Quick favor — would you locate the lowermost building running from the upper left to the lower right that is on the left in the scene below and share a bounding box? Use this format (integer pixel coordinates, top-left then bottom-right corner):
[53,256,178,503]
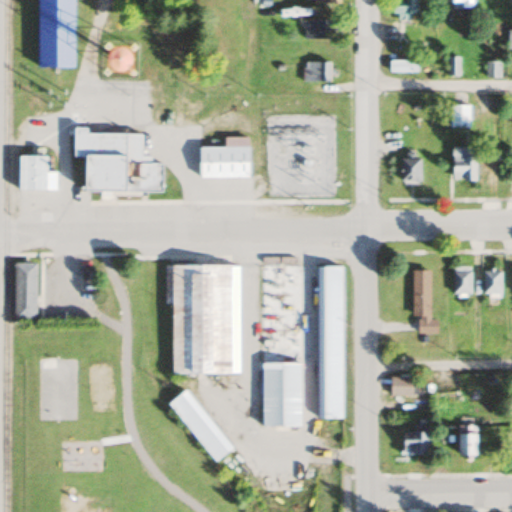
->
[170,390,235,464]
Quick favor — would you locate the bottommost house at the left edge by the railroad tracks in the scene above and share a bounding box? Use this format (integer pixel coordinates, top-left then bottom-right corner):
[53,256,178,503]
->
[14,262,38,318]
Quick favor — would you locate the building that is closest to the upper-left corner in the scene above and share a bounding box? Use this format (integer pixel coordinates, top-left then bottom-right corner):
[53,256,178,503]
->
[39,0,76,68]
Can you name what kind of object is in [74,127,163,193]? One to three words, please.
building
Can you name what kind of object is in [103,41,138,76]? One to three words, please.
water tower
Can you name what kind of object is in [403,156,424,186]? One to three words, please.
house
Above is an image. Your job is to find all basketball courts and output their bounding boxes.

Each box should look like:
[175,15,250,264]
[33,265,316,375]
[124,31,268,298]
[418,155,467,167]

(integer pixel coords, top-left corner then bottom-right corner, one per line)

[40,356,78,424]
